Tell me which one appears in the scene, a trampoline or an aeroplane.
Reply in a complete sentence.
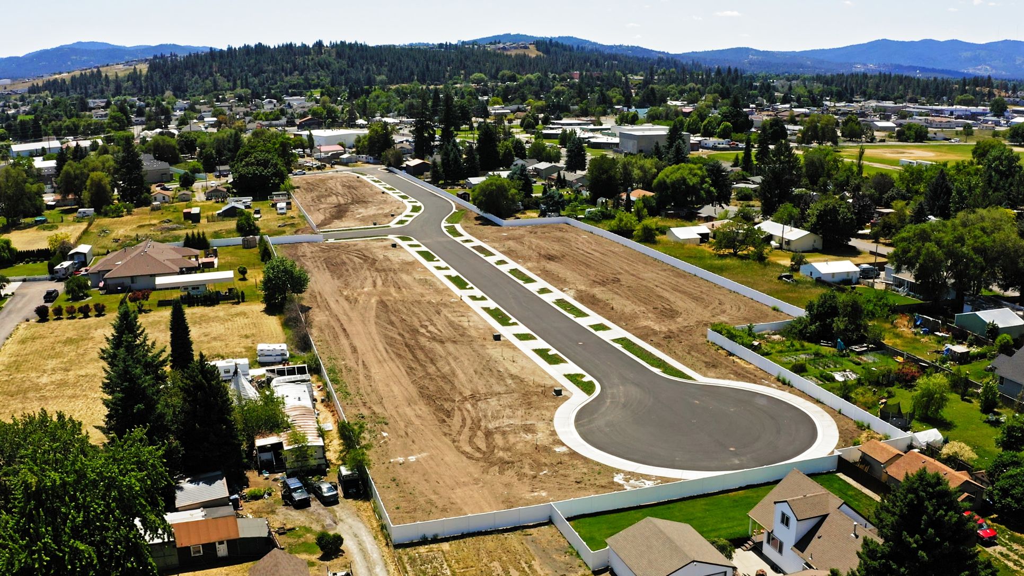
Of the two, only a trampoline appears.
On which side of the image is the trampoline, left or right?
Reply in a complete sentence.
The trampoline is on the right side of the image.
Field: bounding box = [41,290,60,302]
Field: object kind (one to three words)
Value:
vehicle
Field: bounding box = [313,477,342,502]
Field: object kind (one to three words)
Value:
car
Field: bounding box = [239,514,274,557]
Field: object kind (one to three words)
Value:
shed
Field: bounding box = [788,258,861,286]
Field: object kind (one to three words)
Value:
building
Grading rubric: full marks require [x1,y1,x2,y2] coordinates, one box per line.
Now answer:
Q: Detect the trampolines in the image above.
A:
[878,399,918,429]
